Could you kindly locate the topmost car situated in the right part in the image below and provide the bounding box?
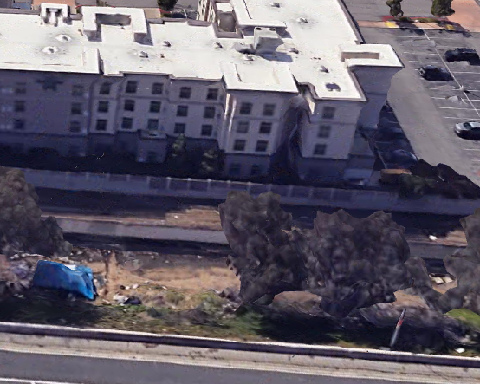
[446,47,479,62]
